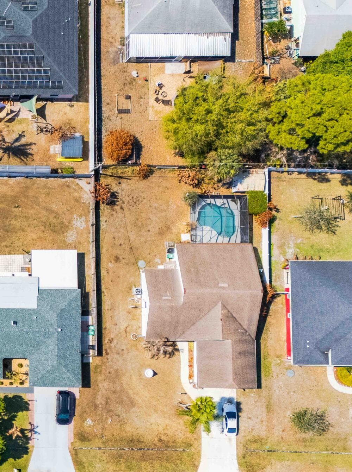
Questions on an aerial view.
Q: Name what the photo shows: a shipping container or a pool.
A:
pool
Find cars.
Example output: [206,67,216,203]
[222,403,239,437]
[56,389,72,424]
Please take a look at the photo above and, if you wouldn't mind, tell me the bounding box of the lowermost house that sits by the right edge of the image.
[285,260,352,367]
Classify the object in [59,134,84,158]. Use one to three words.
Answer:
shed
